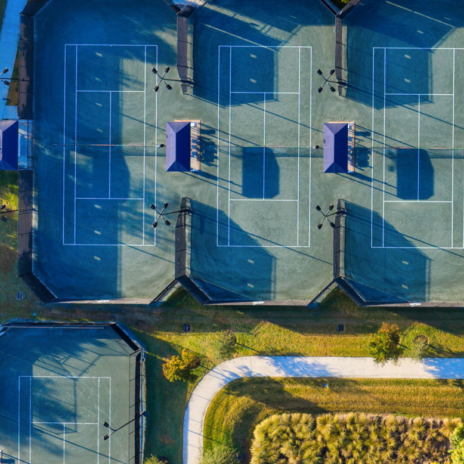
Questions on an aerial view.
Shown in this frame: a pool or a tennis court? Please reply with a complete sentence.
Visible in the photo is a tennis court.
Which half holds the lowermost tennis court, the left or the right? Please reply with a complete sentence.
It is on the left.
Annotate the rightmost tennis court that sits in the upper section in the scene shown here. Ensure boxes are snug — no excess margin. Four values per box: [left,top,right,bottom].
[341,0,464,303]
